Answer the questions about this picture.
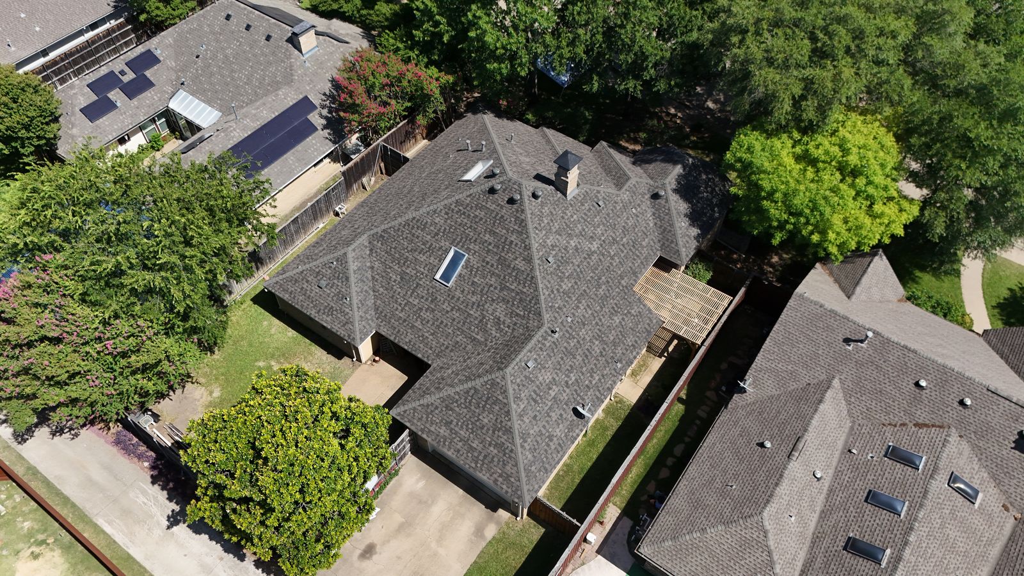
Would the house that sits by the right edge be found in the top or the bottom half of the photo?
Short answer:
bottom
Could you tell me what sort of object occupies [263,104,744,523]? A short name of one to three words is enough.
house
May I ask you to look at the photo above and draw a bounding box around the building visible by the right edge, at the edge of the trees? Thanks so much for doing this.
[633,250,1024,576]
